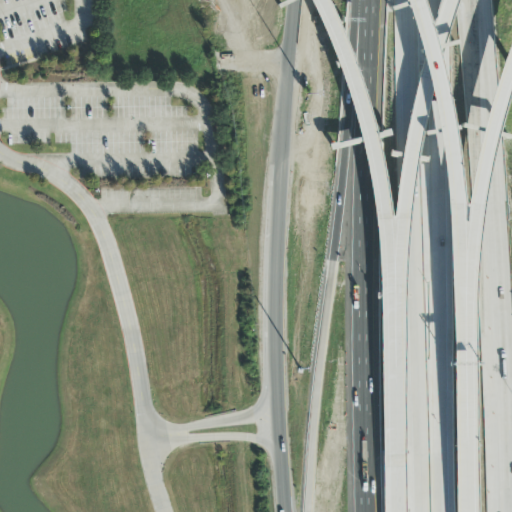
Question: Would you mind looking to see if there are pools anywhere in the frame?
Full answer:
No, no pool can be seen from above.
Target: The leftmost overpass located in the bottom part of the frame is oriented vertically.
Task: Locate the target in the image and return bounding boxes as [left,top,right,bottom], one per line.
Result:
[376,214,413,512]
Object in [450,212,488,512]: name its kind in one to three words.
overpass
